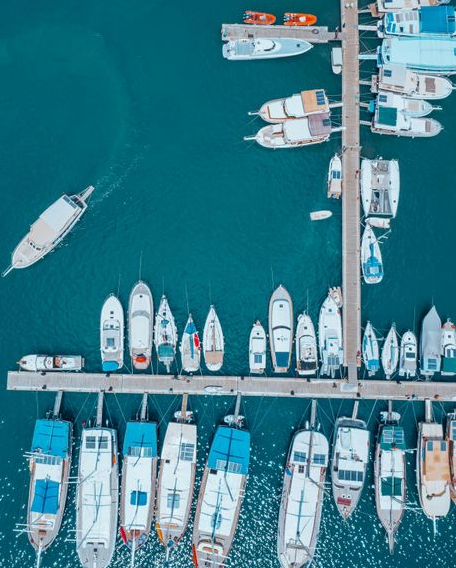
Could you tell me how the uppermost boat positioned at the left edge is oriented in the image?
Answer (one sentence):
In this picture, the uppermost boat positioned at the left edge lies diagonally.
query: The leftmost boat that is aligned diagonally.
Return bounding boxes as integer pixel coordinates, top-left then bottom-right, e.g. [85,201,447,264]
[4,191,94,274]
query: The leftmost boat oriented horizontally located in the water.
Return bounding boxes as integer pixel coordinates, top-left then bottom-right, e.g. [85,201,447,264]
[15,354,92,373]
